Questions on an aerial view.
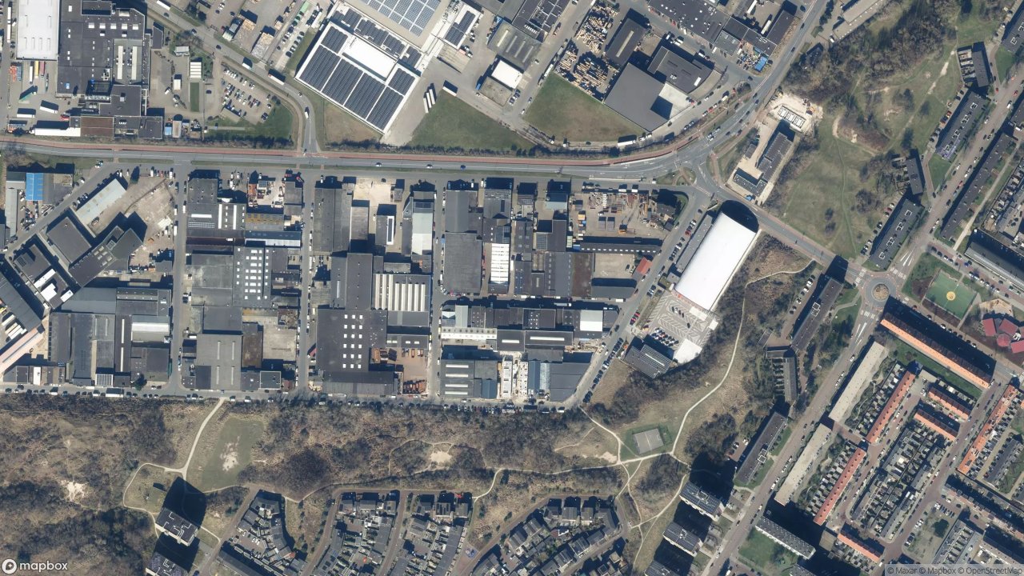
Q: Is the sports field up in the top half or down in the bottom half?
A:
bottom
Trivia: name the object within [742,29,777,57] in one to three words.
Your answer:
building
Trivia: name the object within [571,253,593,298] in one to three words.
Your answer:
building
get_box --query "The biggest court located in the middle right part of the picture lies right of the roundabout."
[925,269,976,319]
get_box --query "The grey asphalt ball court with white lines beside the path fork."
[632,428,664,453]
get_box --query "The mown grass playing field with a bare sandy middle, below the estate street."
[201,418,263,489]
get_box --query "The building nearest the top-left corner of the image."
[16,0,61,61]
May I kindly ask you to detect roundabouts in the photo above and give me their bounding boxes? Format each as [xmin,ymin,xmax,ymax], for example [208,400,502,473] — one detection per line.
[860,272,898,310]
